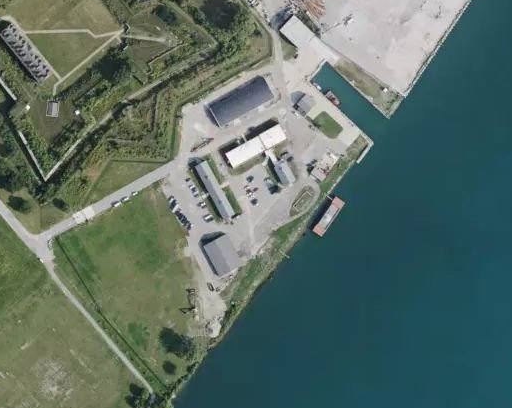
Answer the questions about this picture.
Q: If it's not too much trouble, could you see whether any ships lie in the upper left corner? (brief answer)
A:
No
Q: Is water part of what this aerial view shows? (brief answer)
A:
Yes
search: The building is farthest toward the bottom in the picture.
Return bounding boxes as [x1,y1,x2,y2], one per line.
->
[203,233,244,278]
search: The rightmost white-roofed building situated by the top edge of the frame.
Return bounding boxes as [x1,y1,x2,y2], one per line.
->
[280,14,316,50]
